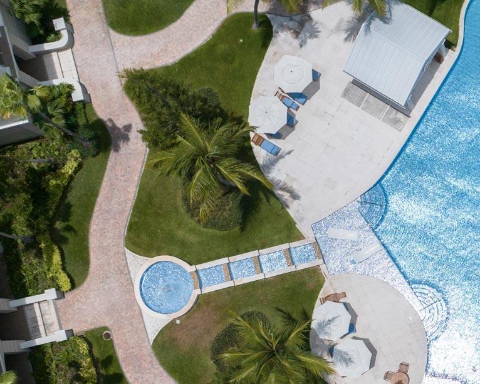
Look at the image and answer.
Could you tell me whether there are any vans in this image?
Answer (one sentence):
No, there is no van in the image.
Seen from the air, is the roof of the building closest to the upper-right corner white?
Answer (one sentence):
Yes, the roof of the building closest to the upper-right corner is white.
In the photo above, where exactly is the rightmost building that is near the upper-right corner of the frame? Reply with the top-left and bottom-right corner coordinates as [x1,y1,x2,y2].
[342,0,451,114]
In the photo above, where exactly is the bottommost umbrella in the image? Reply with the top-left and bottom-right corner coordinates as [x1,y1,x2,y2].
[335,338,372,375]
